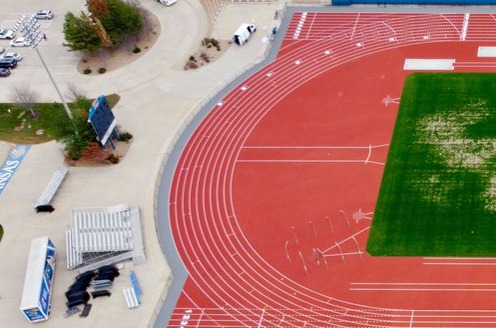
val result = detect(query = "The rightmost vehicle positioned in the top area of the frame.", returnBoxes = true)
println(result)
[228,27,257,48]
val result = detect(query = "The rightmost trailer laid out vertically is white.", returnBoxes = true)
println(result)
[20,237,57,319]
